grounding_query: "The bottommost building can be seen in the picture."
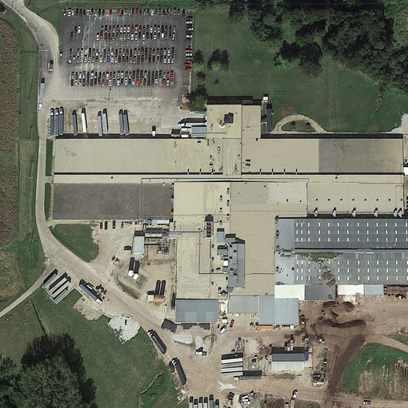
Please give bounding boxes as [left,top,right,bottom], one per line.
[271,353,304,371]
